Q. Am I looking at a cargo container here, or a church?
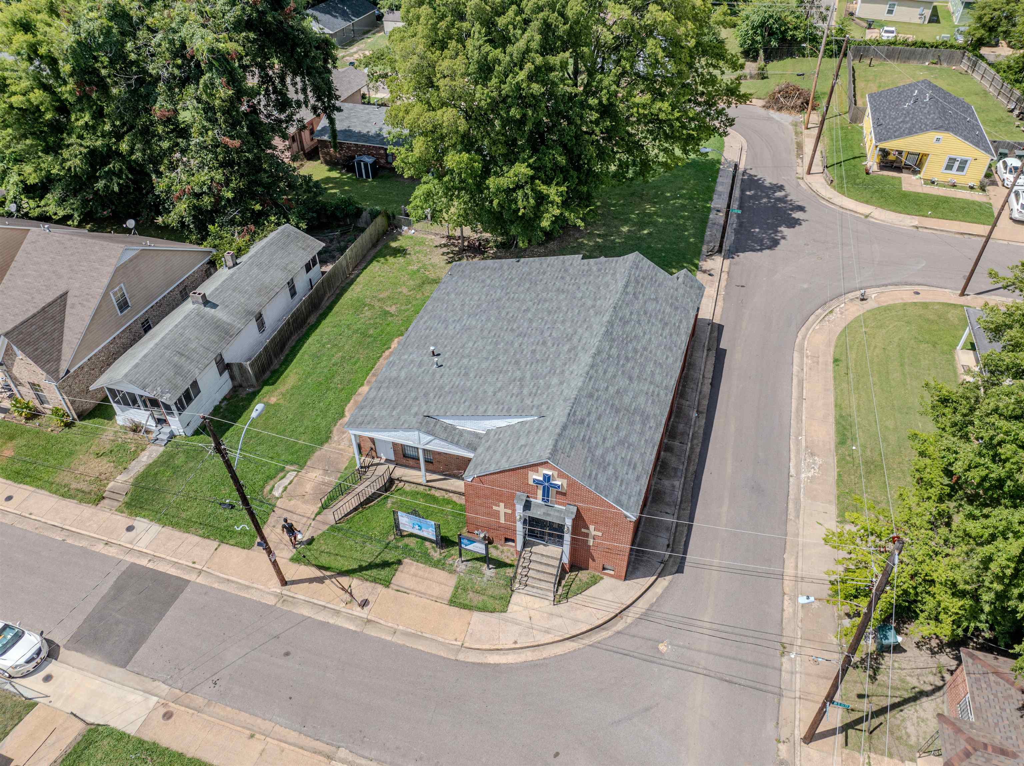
church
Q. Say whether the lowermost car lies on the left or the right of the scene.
left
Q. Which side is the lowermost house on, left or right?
right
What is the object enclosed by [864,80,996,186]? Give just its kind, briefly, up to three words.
house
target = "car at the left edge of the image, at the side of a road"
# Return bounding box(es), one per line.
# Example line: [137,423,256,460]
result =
[0,622,48,686]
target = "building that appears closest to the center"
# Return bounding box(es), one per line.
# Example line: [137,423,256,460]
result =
[321,251,705,604]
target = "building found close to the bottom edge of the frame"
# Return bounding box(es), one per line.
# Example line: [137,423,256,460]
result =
[918,645,1024,766]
